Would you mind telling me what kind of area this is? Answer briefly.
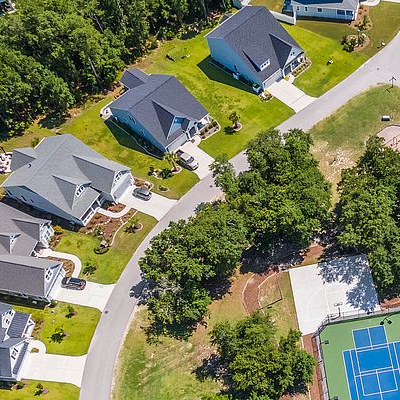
residential area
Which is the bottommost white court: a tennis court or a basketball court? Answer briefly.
basketball court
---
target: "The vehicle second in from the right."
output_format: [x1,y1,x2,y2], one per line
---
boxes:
[130,185,153,200]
